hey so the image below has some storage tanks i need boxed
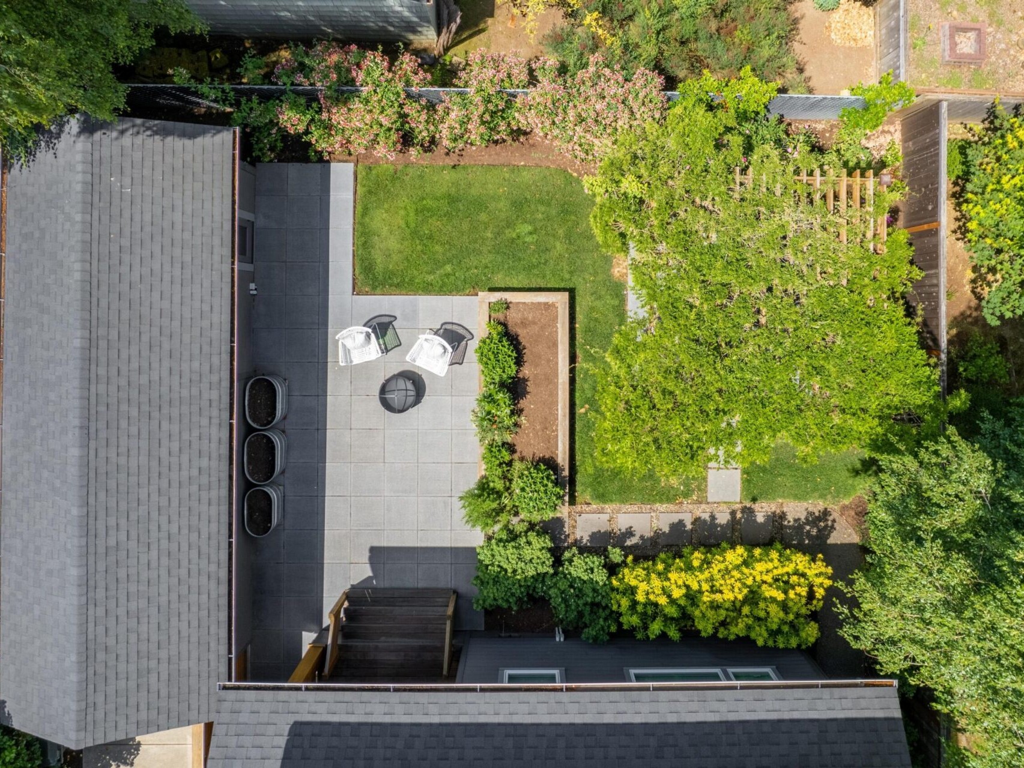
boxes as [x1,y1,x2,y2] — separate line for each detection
[245,376,286,429]
[244,431,286,484]
[244,485,284,537]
